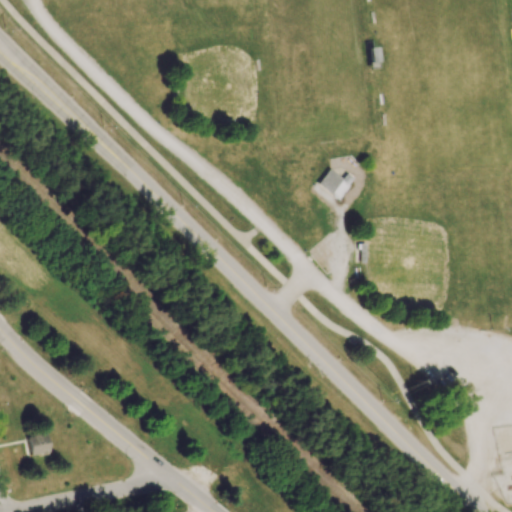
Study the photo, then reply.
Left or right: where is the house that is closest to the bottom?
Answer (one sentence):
It is on the left.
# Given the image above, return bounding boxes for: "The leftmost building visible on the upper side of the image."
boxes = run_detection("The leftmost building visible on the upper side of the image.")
[320,169,351,202]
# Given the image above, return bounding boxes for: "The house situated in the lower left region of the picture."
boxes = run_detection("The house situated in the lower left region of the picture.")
[22,438,50,459]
